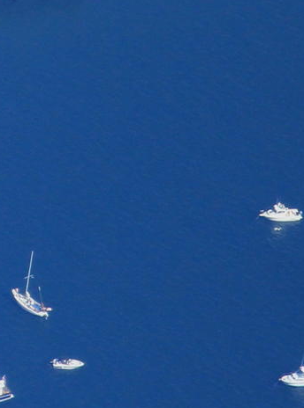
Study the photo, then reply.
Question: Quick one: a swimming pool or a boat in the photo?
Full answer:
The image shows a boat.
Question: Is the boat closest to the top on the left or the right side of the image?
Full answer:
You can find the boat closest to the top on the right side of the picture.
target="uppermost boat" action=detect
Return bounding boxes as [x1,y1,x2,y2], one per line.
[255,198,303,223]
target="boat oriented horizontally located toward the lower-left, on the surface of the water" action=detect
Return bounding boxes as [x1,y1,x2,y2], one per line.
[52,358,83,371]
